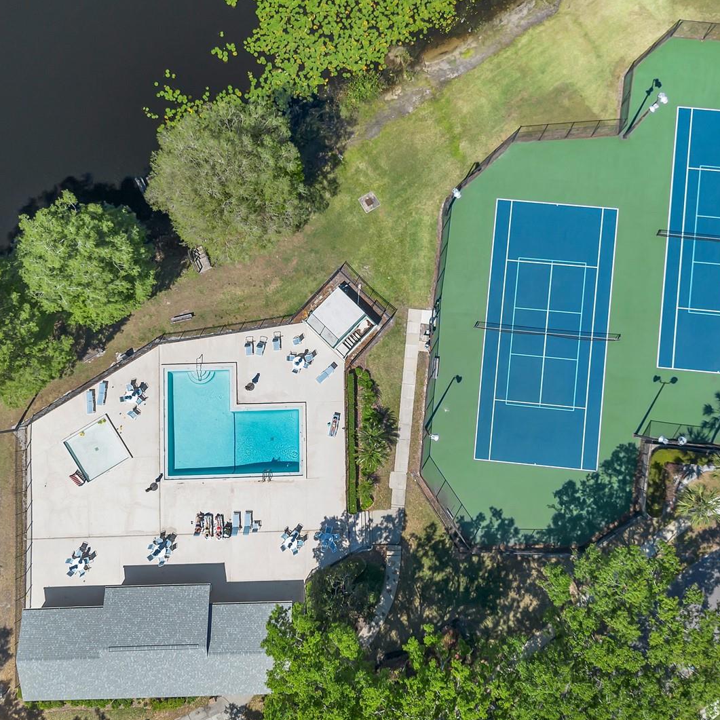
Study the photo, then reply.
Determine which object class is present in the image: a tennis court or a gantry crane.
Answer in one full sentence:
Visible in the photo is a tennis court.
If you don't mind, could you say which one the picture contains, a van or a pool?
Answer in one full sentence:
I can see a pool in this picture.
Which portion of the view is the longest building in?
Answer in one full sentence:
The longest building is in the bottom left part of the image.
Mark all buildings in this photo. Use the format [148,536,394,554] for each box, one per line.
[16,582,297,699]
[308,286,379,358]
